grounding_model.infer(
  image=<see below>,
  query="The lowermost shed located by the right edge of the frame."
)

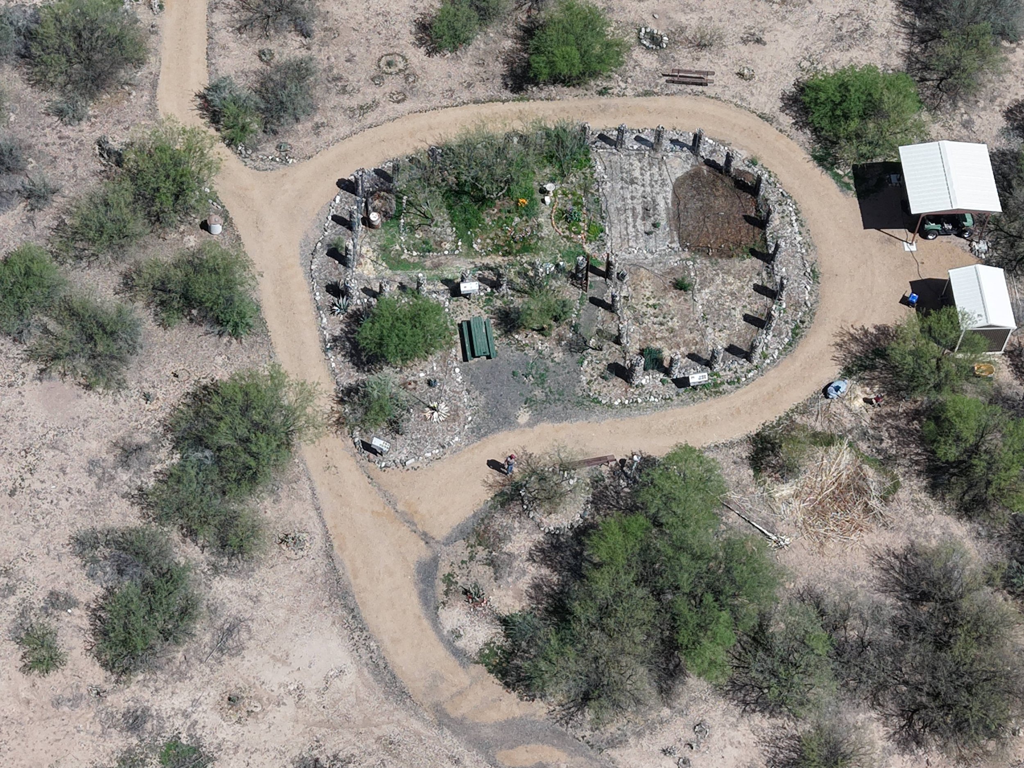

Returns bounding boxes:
[942,264,1017,352]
